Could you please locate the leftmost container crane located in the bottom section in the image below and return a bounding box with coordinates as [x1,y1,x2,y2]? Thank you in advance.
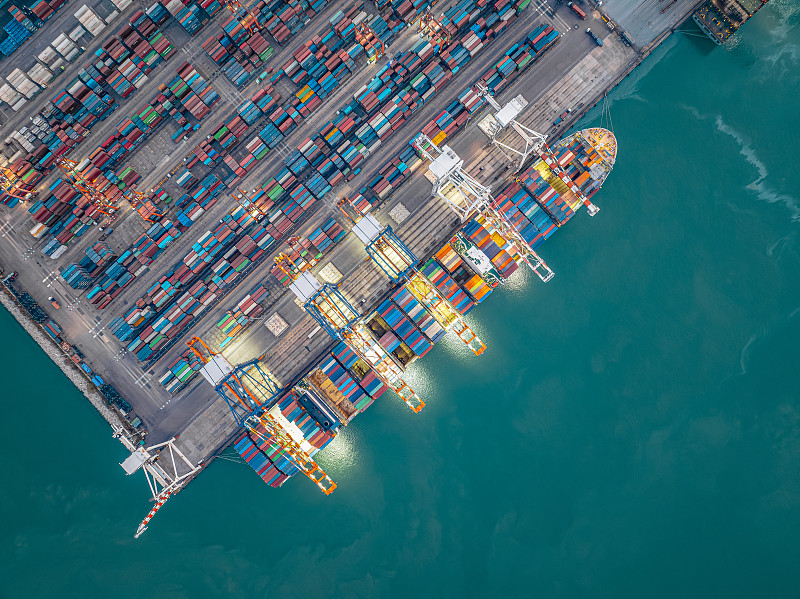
[109,428,209,543]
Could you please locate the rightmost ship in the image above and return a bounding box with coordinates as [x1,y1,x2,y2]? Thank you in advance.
[689,0,766,47]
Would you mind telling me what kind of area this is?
port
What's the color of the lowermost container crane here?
white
